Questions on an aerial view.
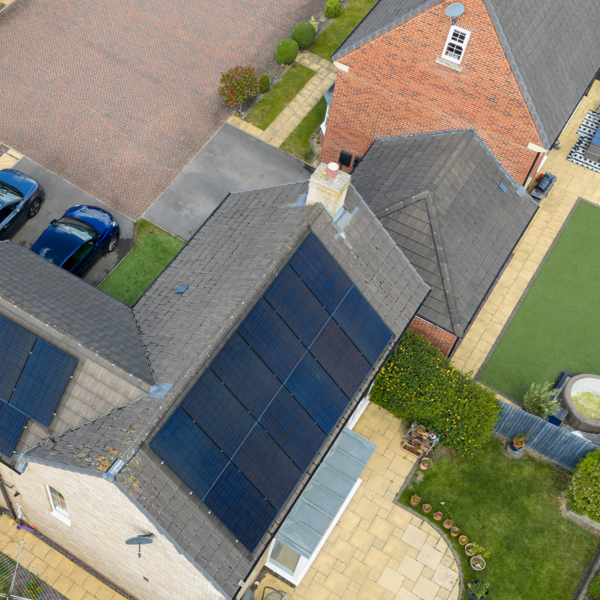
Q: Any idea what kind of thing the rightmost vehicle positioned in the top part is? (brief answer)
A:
car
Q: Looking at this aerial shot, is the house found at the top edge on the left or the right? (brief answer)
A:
right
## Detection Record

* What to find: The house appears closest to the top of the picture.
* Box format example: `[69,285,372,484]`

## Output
[317,0,600,192]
